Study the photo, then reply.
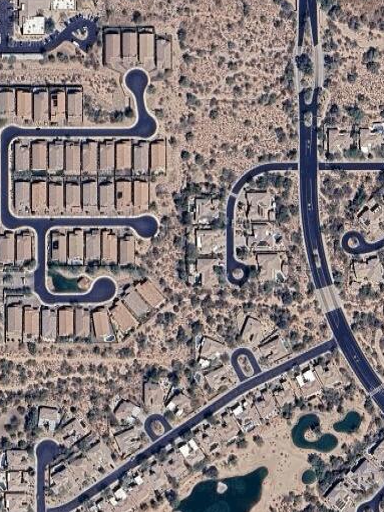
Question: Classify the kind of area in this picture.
residential area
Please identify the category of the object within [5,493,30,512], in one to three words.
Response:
house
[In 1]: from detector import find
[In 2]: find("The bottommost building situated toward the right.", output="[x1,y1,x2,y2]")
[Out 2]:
[325,481,358,512]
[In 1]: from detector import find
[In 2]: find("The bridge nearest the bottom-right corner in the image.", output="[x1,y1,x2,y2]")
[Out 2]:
[315,285,342,318]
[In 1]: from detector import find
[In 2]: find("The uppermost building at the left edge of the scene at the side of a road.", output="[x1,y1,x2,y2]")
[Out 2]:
[19,0,75,34]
